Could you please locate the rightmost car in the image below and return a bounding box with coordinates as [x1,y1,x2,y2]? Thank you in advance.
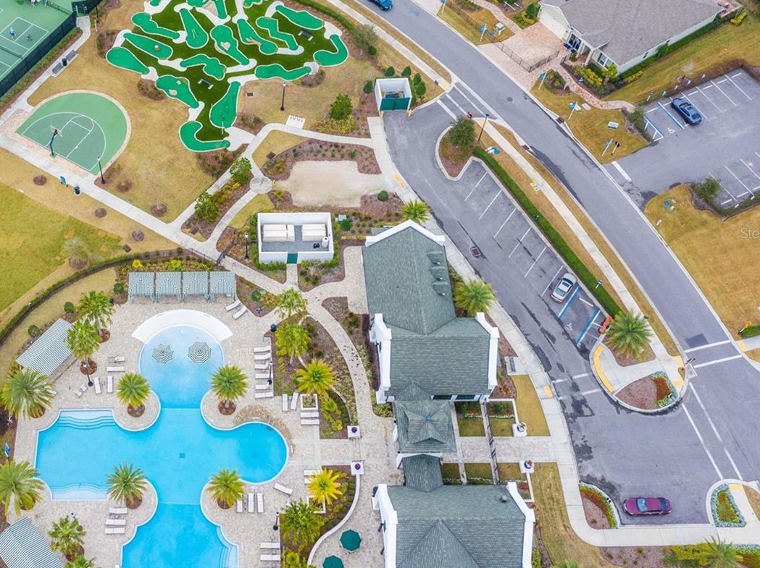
[672,96,707,126]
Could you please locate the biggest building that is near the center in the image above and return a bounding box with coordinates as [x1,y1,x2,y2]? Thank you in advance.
[360,215,502,405]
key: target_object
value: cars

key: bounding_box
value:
[672,96,707,126]
[624,496,677,518]
[550,270,581,304]
[373,0,395,10]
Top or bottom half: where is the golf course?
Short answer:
top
